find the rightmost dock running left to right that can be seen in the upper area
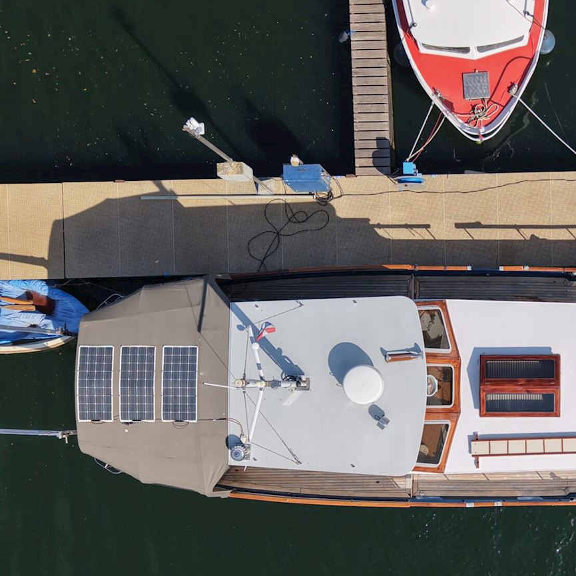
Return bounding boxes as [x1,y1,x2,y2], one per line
[64,169,576,279]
